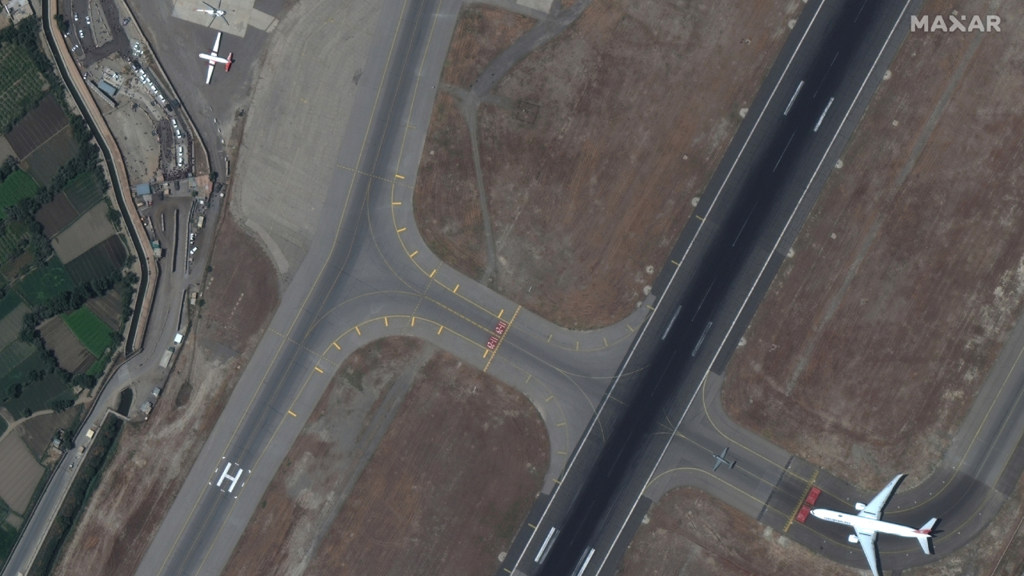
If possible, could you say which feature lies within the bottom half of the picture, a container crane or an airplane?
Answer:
airplane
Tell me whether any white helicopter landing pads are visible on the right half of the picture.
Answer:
No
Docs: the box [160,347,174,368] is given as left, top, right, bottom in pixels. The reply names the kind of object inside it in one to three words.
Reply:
vehicle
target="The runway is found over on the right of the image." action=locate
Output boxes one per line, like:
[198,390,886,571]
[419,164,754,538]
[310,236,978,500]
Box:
[504,0,911,576]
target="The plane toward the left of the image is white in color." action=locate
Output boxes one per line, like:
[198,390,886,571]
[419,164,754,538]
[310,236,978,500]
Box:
[199,34,232,82]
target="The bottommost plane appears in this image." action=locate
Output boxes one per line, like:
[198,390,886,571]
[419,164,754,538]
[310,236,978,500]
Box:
[810,475,938,576]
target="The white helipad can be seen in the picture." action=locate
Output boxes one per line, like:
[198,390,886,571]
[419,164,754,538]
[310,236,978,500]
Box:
[209,457,251,499]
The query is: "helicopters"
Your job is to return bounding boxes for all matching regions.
[194,0,234,28]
